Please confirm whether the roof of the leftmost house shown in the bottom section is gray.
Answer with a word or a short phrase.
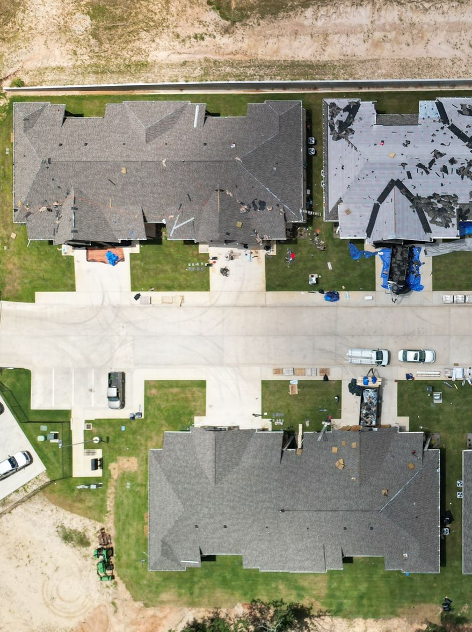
Yes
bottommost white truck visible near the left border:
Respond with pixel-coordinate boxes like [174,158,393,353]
[0,448,37,479]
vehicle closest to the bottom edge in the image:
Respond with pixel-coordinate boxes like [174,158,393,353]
[94,544,114,579]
